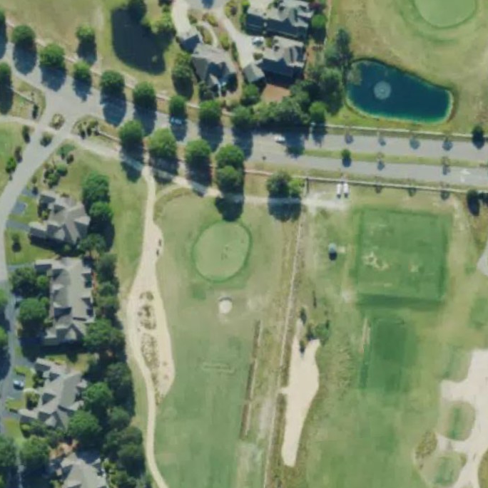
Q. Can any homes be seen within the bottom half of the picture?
Yes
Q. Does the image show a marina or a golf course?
golf course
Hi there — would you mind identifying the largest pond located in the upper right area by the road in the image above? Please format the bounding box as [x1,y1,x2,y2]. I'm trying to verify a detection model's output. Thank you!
[343,57,455,126]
